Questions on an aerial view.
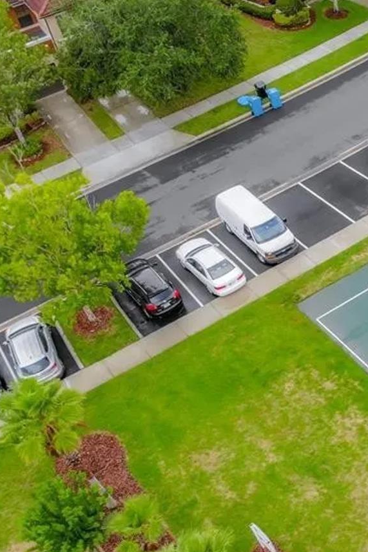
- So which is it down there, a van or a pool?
van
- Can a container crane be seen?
No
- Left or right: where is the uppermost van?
right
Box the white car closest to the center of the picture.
[176,240,245,300]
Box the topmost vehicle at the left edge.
[4,320,75,384]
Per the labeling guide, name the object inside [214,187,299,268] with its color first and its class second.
white van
